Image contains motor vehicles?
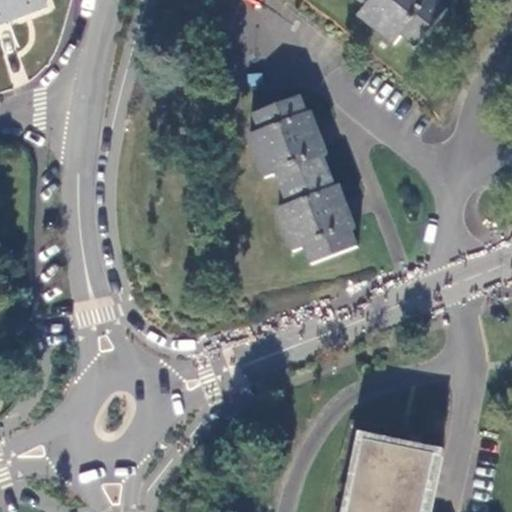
Yes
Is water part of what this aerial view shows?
No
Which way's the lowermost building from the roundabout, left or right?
on its right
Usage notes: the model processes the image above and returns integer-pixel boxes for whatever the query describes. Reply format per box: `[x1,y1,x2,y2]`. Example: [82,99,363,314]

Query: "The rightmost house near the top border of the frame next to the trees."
[356,0,446,45]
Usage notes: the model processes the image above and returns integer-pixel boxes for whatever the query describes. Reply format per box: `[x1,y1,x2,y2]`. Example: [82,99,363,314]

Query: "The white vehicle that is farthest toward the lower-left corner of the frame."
[78,468,106,481]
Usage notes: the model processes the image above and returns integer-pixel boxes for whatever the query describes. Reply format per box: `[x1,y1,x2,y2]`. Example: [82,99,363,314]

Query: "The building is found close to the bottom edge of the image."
[340,430,442,512]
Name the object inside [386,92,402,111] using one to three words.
car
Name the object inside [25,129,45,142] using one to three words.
vehicle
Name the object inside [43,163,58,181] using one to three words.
car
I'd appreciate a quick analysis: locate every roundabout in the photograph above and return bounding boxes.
[0,296,231,512]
